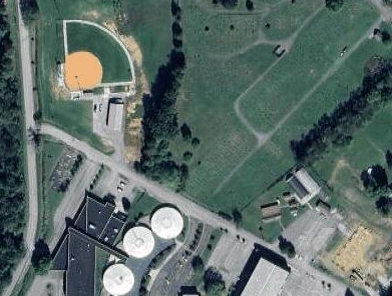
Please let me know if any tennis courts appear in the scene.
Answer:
No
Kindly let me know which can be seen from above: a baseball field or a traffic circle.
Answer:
baseball field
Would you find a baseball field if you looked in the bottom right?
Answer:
No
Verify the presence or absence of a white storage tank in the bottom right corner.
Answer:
No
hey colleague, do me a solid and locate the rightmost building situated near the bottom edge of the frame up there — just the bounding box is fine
[241,258,290,296]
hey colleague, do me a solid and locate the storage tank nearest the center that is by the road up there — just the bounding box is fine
[151,206,184,240]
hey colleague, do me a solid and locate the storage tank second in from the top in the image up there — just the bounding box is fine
[123,227,155,258]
